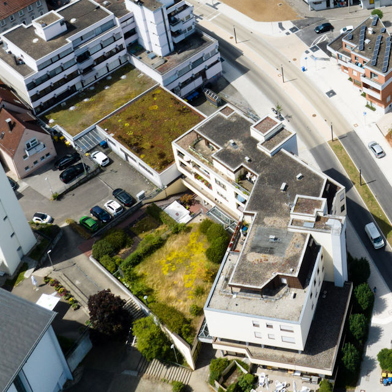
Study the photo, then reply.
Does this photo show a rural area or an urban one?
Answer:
urban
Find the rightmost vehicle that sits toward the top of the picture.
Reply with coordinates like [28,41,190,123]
[369,141,384,159]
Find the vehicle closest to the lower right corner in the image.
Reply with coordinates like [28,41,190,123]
[366,220,384,251]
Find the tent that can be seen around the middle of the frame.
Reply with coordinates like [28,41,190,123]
[164,201,193,230]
